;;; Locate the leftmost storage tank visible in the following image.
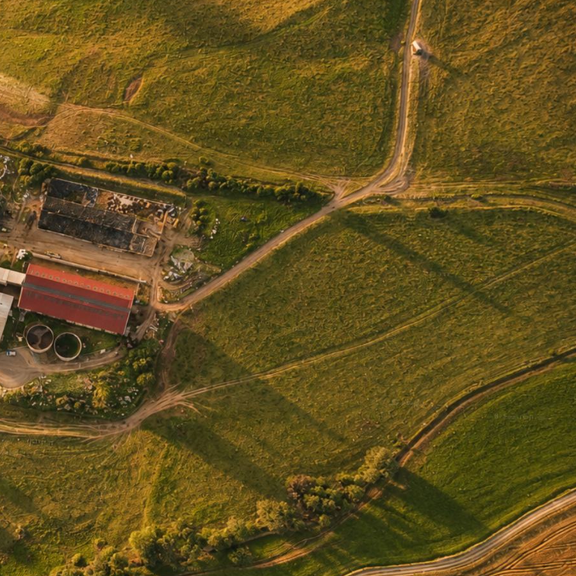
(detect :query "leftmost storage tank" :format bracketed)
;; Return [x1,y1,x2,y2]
[25,324,54,352]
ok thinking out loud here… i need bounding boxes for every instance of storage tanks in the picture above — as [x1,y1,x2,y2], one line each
[25,324,54,352]
[54,333,82,361]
